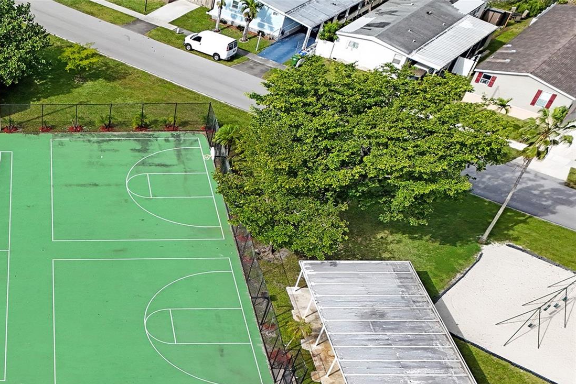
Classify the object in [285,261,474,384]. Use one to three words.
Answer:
building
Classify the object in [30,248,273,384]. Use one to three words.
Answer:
basketball court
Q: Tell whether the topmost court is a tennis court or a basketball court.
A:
basketball court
